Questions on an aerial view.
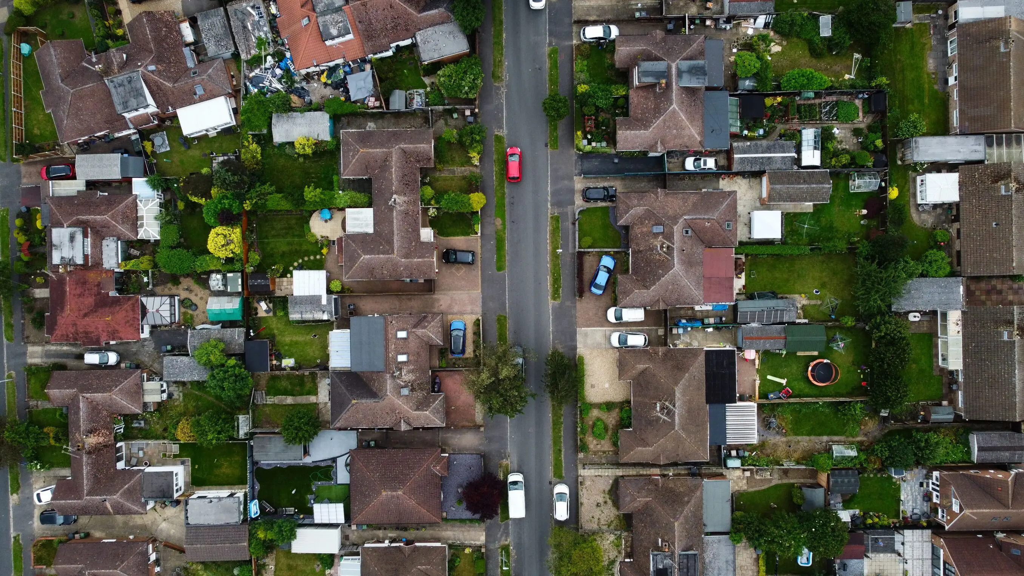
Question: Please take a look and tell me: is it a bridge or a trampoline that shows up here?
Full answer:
Visible in the photo is a trampoline.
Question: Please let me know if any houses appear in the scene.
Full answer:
Yes, this view includes a house.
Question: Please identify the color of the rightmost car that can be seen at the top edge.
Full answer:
The rightmost car that can be seen at the top edge is white.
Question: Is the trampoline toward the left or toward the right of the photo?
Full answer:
The trampoline is on the right side of the image.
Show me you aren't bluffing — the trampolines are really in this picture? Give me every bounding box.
[809,357,842,386]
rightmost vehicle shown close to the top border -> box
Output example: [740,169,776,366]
[581,23,618,49]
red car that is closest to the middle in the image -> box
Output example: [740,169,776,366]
[505,147,523,183]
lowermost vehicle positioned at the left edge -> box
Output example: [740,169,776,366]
[39,508,79,528]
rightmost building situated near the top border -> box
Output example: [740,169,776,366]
[946,0,1024,136]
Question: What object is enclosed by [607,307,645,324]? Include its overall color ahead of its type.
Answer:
white vehicle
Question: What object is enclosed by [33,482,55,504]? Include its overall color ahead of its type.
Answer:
white car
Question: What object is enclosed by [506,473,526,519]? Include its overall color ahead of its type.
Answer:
white vehicle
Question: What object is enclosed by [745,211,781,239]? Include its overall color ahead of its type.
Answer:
white gazebo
